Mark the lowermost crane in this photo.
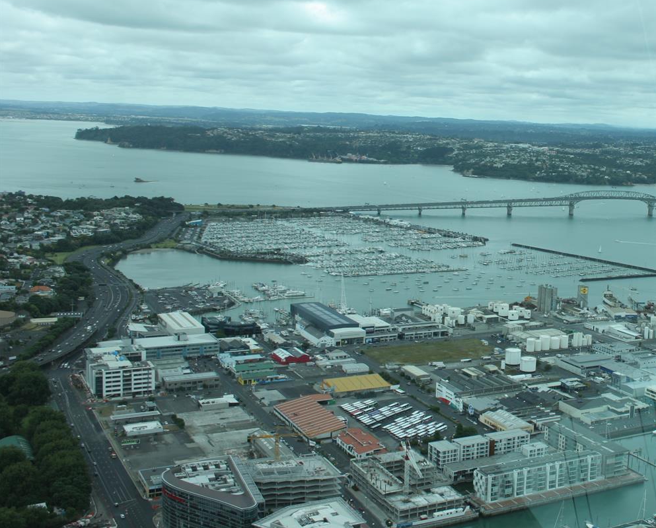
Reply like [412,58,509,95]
[402,441,424,493]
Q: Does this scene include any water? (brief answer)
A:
Yes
